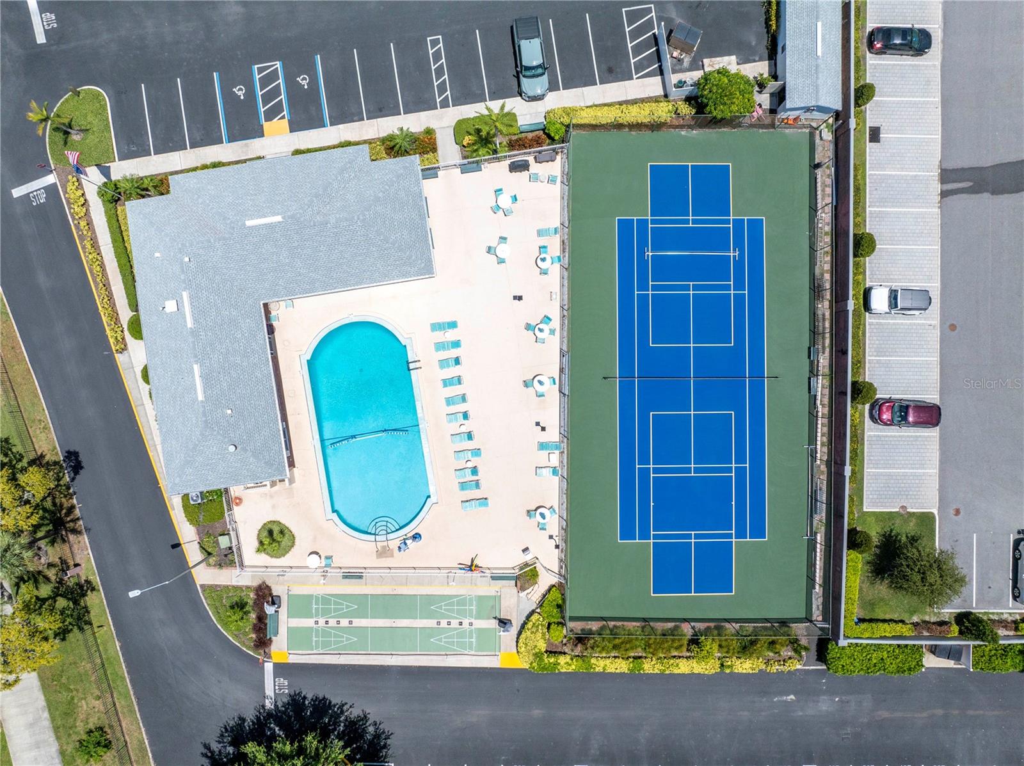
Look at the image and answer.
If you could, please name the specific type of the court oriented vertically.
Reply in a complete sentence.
The court oriented vertically in the image is a tennis court.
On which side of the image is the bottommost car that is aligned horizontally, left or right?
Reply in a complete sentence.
The bottommost car that is aligned horizontally sits on the right side.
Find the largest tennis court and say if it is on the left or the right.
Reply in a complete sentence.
You can find the largest tennis court on the right side of the picture.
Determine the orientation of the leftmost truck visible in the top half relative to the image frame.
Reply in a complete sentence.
Seen from above, the leftmost truck visible in the top half lies from top to bottom.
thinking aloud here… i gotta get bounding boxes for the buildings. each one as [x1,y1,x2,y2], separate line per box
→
[777,0,842,120]
[125,144,438,495]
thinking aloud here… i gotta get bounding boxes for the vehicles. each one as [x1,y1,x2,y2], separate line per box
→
[867,283,935,315]
[1015,541,1024,604]
[867,23,931,58]
[869,397,944,429]
[515,17,550,103]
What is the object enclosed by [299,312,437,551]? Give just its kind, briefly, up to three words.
swimming pool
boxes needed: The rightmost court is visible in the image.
[568,129,817,623]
